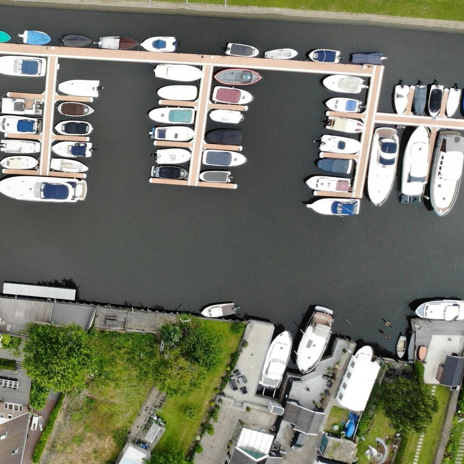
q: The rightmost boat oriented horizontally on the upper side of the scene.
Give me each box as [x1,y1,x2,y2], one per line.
[350,51,387,64]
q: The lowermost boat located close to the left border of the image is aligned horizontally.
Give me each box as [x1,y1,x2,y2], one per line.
[0,174,87,202]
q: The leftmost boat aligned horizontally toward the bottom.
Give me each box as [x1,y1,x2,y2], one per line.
[201,302,241,318]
